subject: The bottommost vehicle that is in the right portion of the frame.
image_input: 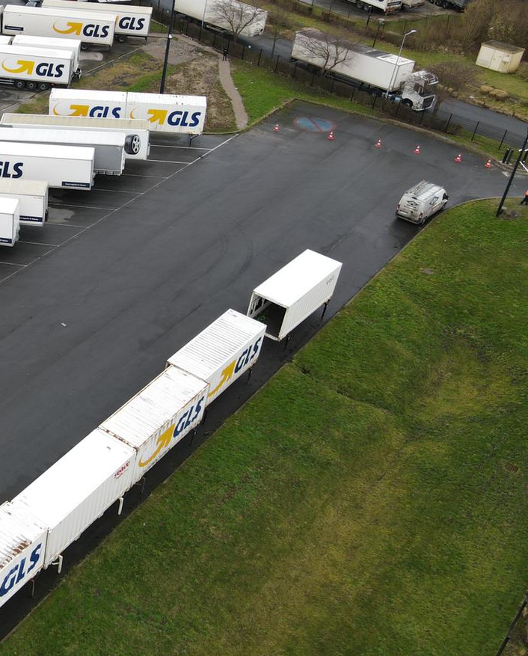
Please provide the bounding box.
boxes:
[401,180,449,219]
